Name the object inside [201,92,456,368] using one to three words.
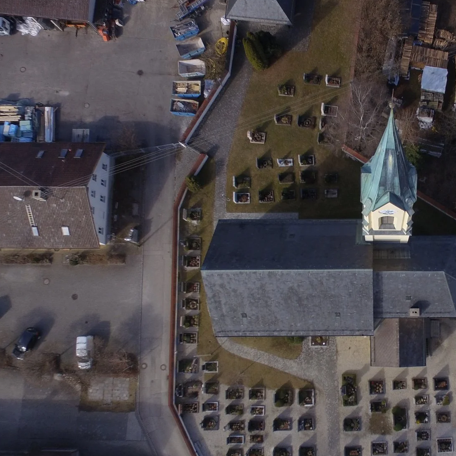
church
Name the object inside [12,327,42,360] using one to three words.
car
